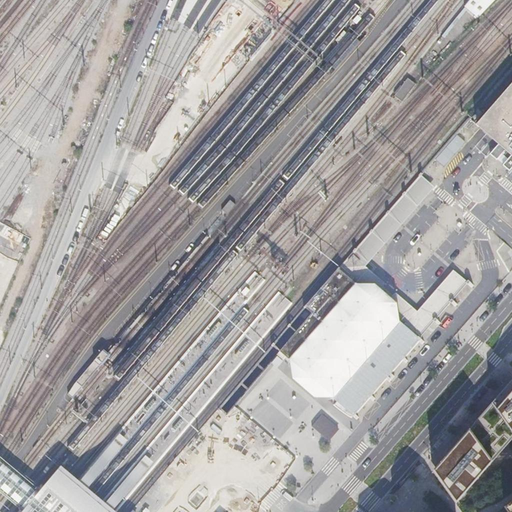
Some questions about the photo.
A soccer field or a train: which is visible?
train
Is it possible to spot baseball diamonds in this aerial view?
No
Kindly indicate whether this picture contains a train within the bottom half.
Yes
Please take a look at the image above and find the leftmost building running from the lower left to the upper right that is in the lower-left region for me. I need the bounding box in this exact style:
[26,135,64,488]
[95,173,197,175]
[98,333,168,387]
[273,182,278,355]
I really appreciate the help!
[64,350,115,403]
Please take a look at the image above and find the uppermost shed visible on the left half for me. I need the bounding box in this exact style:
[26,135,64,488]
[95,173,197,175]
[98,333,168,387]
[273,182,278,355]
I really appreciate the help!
[167,0,229,34]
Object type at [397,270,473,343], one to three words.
building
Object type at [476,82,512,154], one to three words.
building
